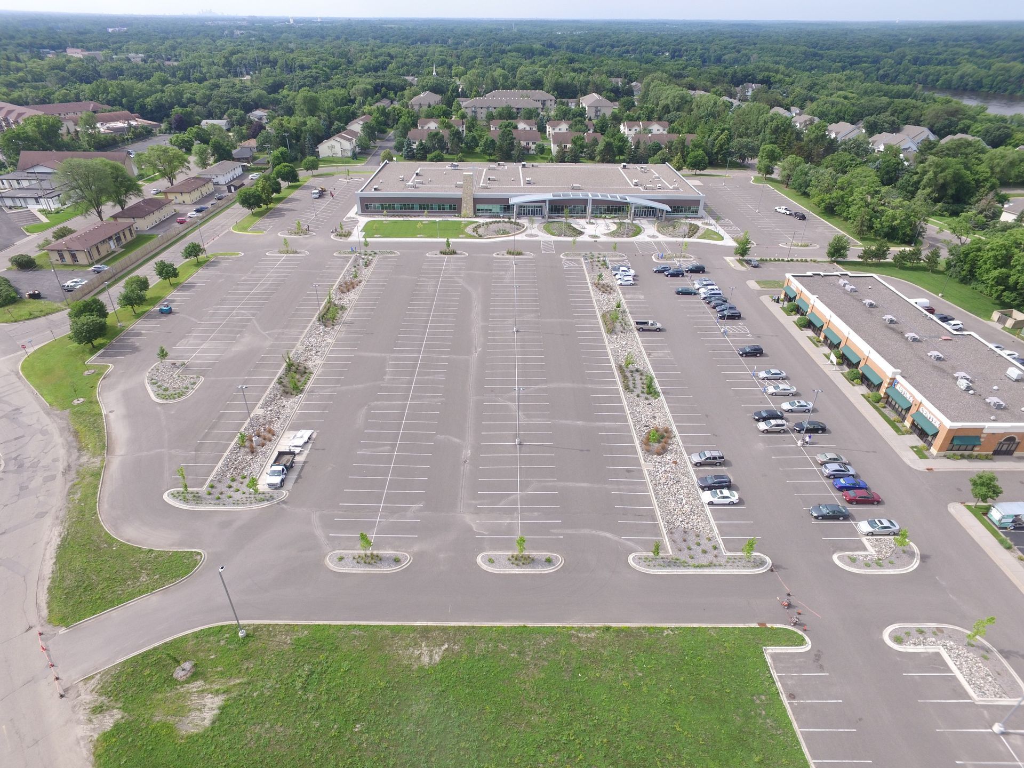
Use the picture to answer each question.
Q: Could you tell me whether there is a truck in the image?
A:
Yes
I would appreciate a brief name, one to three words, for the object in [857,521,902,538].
car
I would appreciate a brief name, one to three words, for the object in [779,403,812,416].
vehicle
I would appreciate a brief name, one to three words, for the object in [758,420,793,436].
car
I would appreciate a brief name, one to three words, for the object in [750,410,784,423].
vehicle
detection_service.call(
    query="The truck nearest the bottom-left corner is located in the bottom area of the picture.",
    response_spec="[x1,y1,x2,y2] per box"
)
[264,445,298,485]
